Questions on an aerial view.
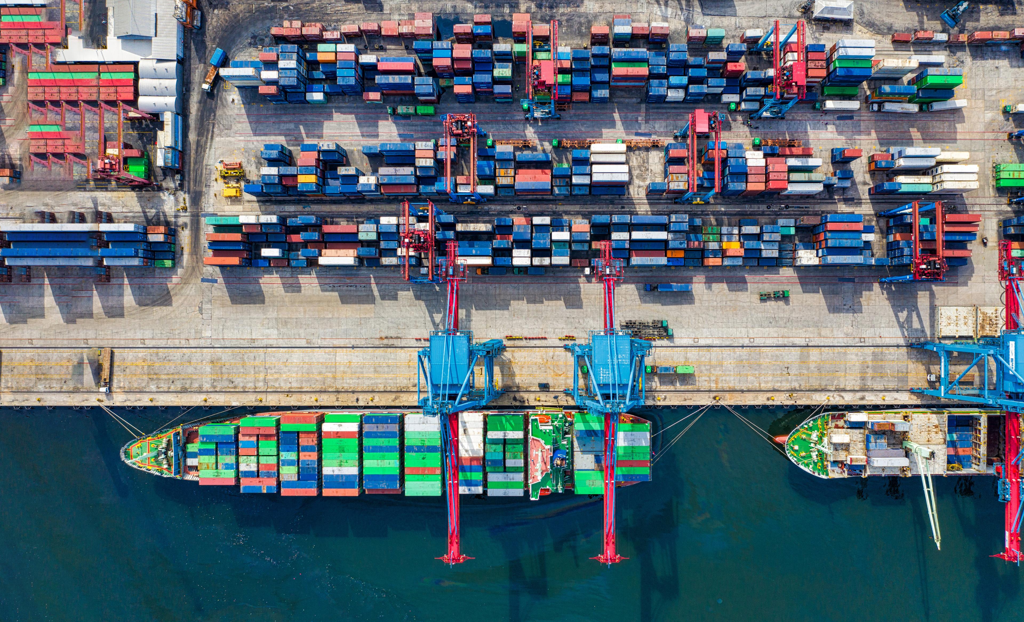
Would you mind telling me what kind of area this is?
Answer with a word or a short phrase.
port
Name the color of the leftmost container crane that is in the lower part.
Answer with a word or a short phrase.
blue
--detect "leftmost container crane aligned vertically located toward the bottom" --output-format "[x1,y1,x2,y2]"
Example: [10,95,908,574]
[418,239,506,573]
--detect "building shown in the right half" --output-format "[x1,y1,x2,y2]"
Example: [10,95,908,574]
[807,0,854,31]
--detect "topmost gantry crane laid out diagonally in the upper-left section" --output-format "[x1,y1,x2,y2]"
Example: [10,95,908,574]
[62,0,115,42]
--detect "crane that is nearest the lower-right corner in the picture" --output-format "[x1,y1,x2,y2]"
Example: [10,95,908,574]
[912,239,1024,573]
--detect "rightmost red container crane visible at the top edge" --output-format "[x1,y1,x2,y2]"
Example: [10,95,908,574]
[751,20,807,116]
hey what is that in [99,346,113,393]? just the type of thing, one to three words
vehicle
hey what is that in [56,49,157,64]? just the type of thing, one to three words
building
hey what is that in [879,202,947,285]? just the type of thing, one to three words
container crane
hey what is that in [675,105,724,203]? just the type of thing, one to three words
container crane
